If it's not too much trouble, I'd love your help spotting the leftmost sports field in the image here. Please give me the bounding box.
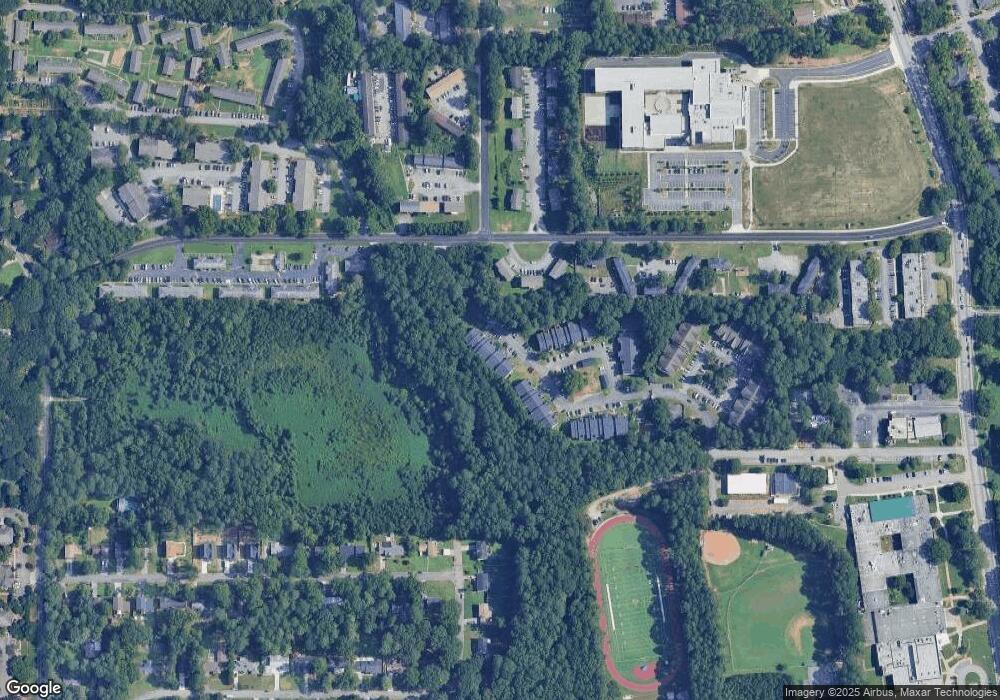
[594,515,682,691]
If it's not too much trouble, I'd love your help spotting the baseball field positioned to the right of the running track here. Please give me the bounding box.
[702,531,811,671]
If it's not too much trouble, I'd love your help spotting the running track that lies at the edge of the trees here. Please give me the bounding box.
[594,515,682,691]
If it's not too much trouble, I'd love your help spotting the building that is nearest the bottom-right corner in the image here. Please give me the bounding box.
[851,494,951,700]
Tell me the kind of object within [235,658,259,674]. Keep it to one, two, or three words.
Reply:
house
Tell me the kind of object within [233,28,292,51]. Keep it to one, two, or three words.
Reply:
building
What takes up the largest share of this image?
trees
